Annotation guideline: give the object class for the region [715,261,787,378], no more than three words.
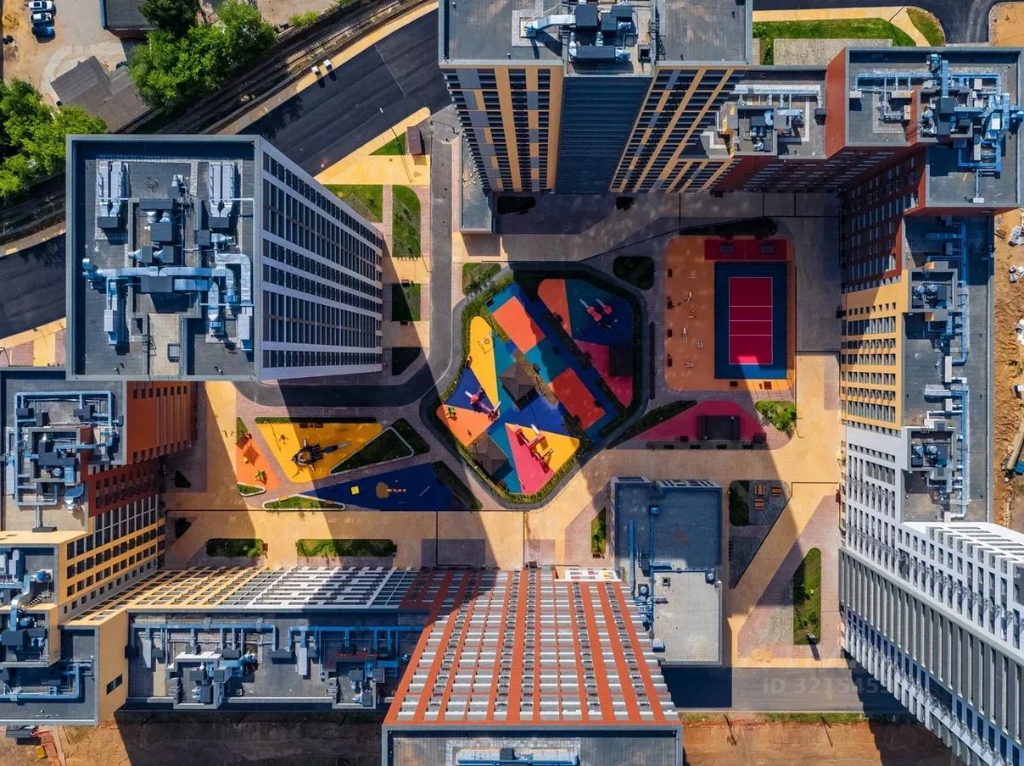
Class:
sports court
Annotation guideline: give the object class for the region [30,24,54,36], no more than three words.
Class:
vehicle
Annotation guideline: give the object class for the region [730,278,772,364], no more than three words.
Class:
sports court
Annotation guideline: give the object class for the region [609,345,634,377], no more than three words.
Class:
gazebo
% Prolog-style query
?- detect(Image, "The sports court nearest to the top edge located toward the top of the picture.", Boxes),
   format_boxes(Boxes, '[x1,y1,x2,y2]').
[705,239,786,259]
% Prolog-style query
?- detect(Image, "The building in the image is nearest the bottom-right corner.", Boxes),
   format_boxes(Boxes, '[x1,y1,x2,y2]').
[835,494,1024,766]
